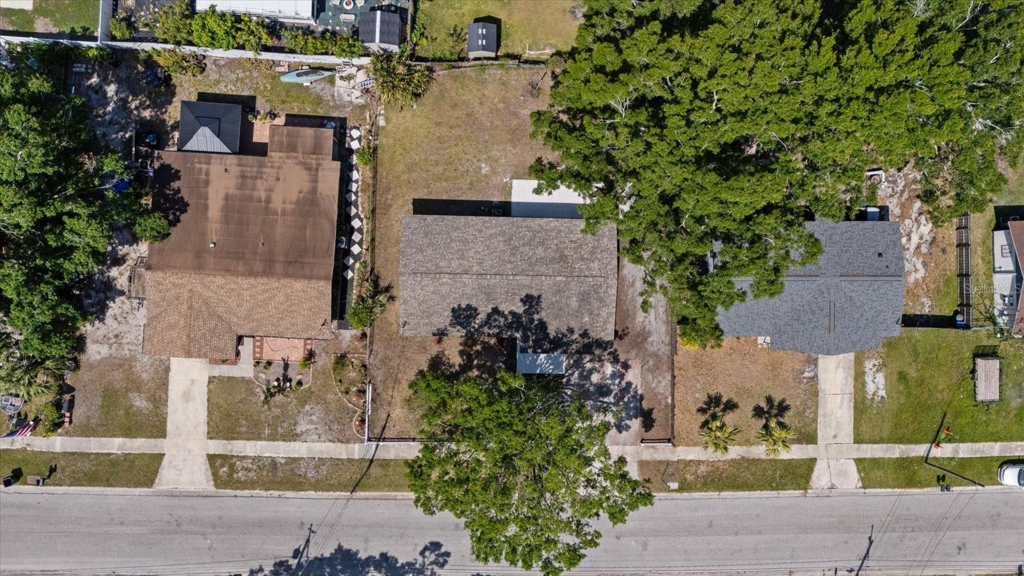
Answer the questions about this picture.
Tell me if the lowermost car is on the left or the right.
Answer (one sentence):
You can find the lowermost car on the right side of the picture.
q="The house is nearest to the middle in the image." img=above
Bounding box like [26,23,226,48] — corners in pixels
[399,215,619,355]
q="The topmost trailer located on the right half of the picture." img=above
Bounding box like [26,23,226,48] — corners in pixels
[966,353,1009,416]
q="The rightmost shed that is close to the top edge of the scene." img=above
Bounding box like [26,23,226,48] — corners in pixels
[468,23,497,60]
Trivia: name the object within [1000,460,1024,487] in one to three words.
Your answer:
car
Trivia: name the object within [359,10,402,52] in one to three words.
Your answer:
shed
